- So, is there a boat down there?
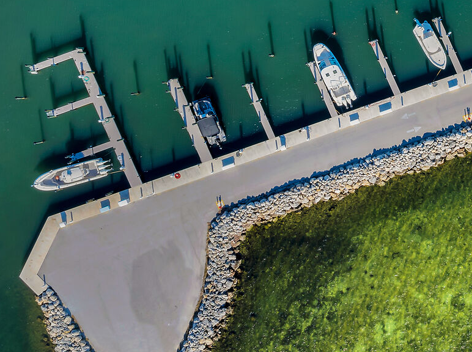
Yes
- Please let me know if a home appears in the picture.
No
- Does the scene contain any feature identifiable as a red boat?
No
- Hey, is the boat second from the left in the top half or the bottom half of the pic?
top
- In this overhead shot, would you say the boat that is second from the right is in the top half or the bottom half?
top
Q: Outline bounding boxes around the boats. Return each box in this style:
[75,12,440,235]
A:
[196,99,226,146]
[316,45,352,108]
[30,161,110,191]
[414,22,446,69]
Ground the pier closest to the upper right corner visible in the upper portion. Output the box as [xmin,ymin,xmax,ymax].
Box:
[431,16,463,73]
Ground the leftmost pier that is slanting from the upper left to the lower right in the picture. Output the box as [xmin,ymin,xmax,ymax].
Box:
[25,47,142,188]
